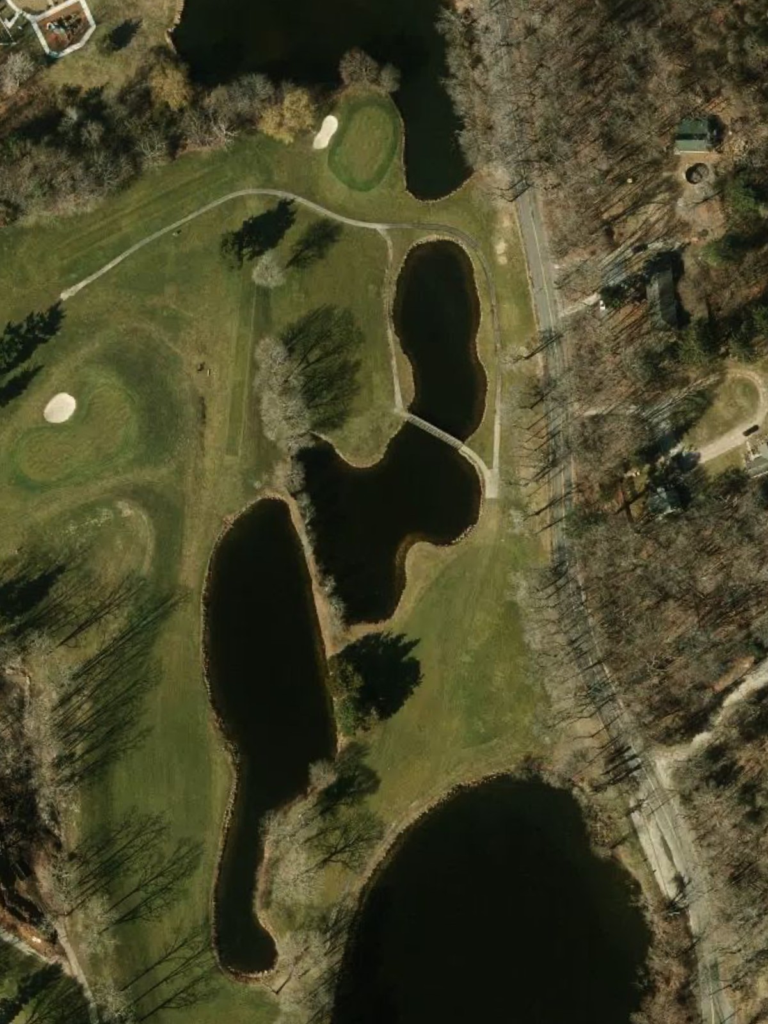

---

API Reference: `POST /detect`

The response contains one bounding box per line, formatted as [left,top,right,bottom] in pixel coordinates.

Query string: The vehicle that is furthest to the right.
[741,424,759,437]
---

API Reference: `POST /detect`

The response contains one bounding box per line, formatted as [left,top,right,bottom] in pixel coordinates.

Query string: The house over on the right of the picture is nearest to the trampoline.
[674,118,717,156]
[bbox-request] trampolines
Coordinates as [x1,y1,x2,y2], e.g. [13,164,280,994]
[685,166,704,184]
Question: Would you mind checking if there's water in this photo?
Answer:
Yes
